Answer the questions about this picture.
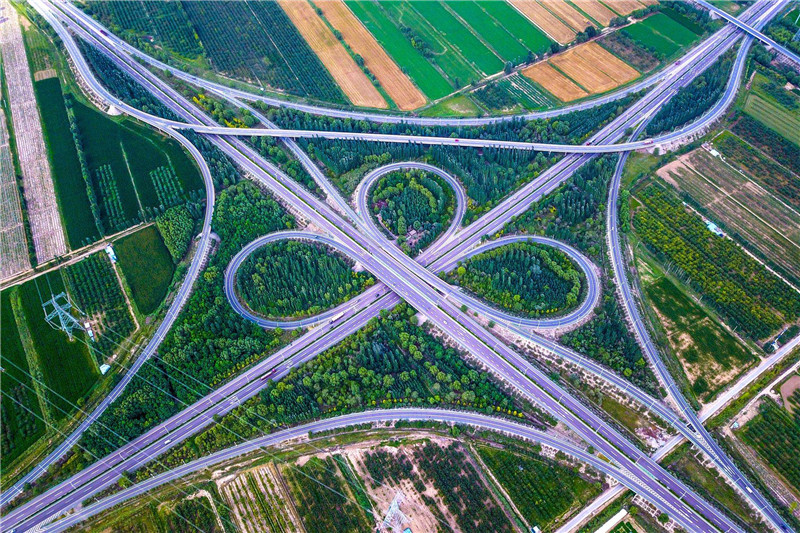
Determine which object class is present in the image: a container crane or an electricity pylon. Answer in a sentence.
Looking from above, you can make out an electricity pylon.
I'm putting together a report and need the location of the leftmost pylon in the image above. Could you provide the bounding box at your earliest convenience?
[44,292,84,338]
